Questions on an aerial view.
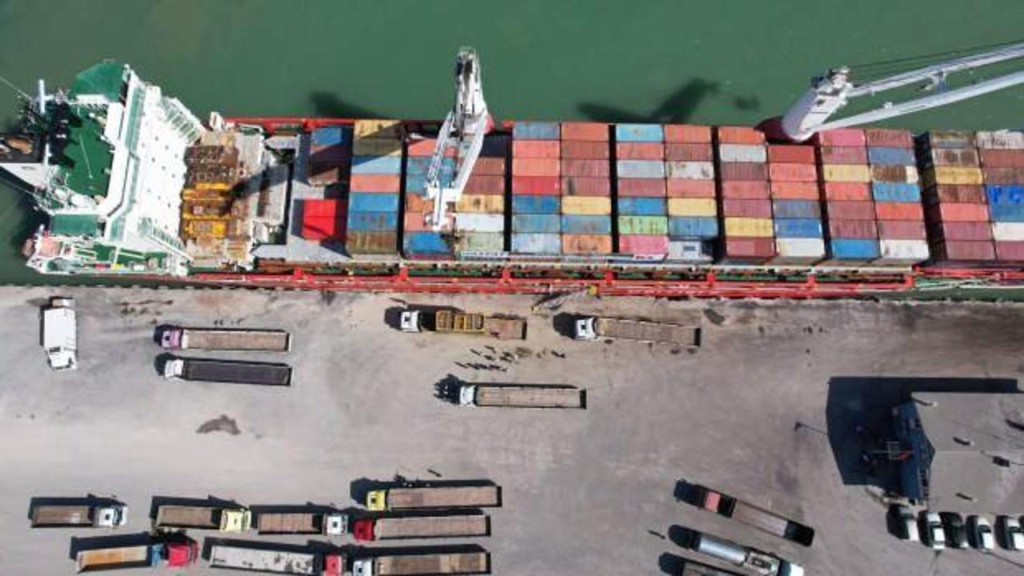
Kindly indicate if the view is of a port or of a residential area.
port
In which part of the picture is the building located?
bottom right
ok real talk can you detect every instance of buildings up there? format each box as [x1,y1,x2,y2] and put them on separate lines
[891,390,1024,514]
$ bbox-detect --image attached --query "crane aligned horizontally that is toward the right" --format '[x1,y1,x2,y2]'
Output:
[752,41,1024,145]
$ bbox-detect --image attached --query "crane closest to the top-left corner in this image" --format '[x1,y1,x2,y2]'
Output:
[424,55,494,249]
